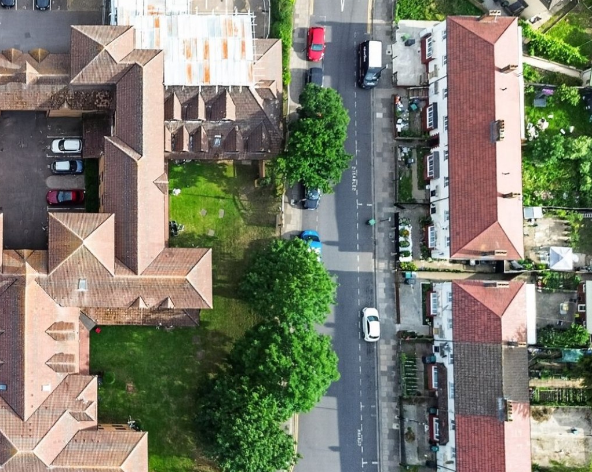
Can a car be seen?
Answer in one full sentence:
Yes, a car appears in the view.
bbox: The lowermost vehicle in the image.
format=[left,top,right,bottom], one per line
[360,307,380,341]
